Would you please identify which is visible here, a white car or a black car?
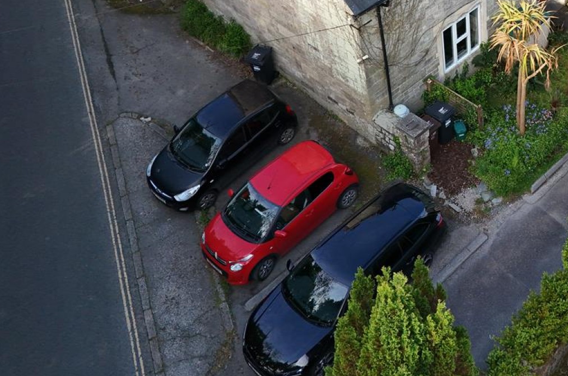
black car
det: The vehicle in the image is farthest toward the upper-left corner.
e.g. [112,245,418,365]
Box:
[141,71,296,209]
